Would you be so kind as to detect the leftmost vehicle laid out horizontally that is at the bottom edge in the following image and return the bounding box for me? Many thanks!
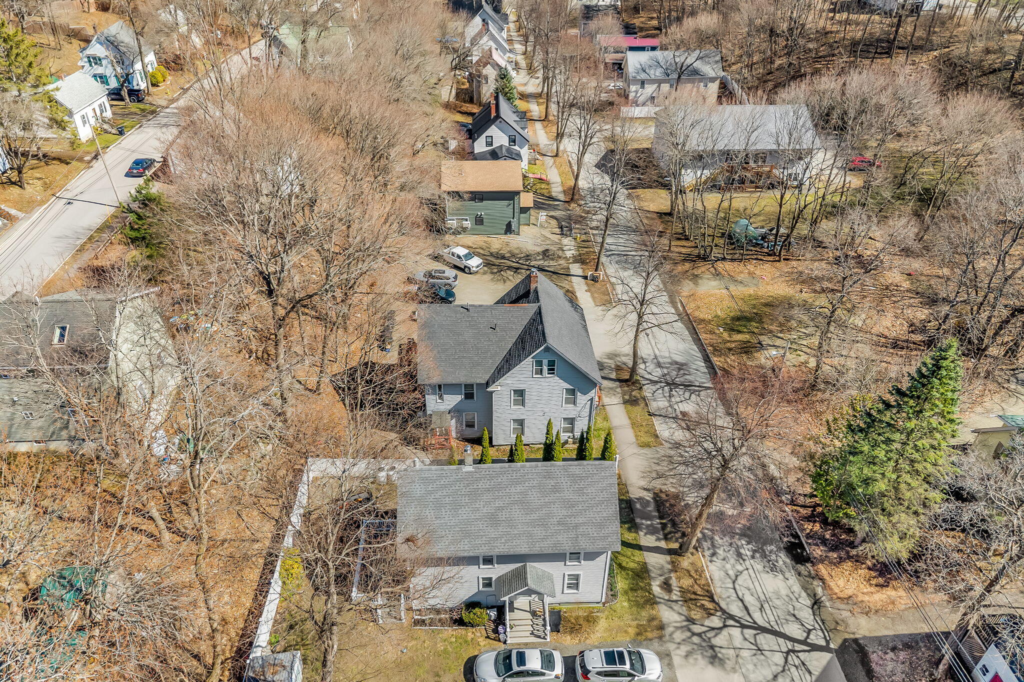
[474,642,563,682]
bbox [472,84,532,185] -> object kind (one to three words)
house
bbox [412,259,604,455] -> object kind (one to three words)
house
